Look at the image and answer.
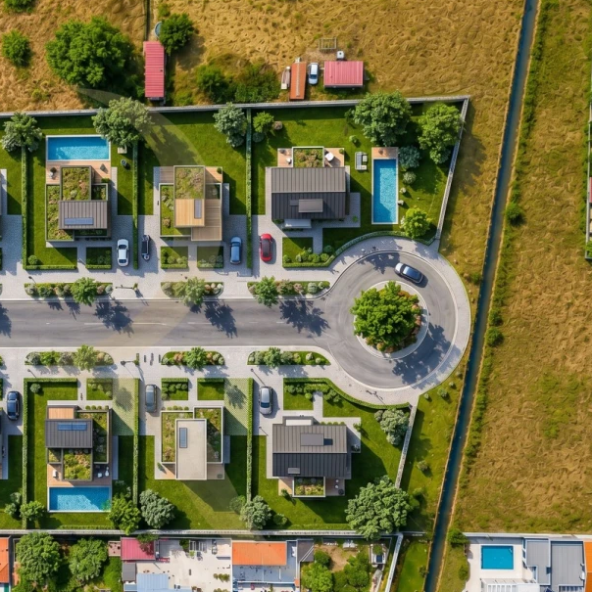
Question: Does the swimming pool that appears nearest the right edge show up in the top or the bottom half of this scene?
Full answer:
The swimming pool that appears nearest the right edge sits in the bottom half of the picture.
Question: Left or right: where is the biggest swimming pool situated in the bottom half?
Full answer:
The biggest swimming pool situated in the bottom half is on the left side of the image.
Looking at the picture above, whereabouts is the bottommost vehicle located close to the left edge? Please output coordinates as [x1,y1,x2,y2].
[6,391,21,418]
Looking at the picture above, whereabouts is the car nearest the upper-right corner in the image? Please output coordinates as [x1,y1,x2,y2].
[308,63,320,85]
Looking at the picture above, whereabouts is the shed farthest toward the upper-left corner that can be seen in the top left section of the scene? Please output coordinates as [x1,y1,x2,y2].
[145,41,165,102]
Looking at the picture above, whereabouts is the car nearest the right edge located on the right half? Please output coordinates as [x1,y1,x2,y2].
[393,262,426,285]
